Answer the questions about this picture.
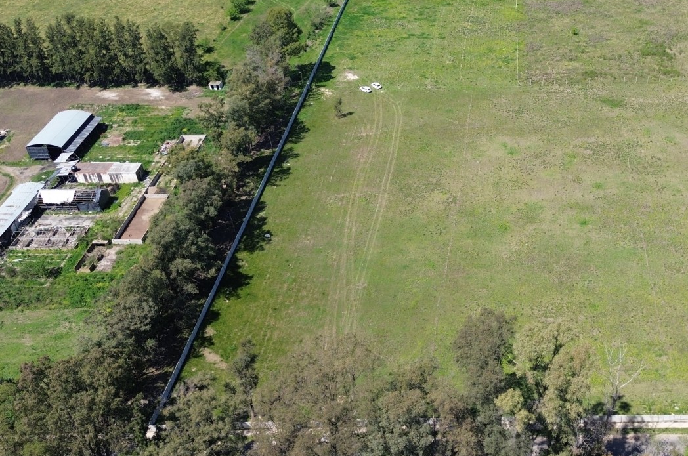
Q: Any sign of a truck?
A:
No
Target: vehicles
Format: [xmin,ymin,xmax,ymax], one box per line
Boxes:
[371,80,382,89]
[359,83,373,92]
